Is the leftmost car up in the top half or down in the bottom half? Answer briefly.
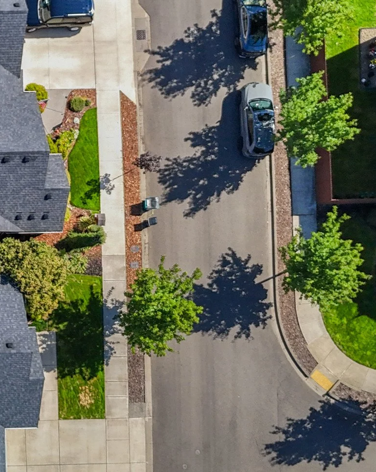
top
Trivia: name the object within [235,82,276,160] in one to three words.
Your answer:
car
